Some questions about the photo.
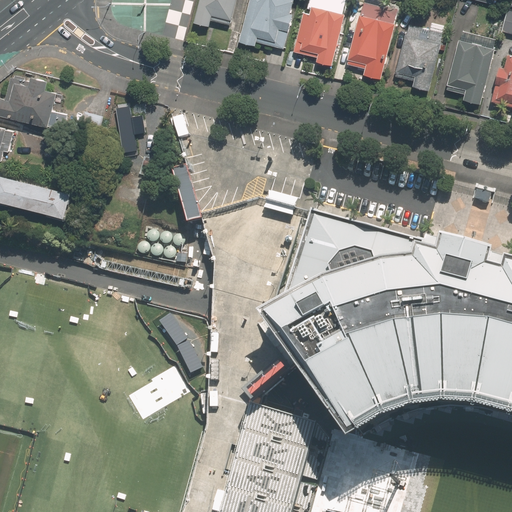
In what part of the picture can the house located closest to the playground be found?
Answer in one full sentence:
The house located closest to the playground is located in the top region of the scene.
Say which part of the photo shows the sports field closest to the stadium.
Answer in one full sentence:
You can find the sports field closest to the stadium in the bottom right area of the picture.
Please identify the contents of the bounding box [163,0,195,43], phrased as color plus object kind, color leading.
white playground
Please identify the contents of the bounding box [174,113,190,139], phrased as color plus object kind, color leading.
white vehicle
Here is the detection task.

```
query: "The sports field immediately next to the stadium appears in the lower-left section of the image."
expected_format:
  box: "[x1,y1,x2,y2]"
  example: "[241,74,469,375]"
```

[0,268,210,512]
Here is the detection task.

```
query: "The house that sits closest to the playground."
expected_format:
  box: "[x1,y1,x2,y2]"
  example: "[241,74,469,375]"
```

[193,0,237,29]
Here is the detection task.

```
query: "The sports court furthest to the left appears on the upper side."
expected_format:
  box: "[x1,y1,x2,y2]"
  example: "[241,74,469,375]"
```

[112,0,171,34]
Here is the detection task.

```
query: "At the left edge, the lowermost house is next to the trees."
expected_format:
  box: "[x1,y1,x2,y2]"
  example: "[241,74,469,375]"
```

[0,173,66,218]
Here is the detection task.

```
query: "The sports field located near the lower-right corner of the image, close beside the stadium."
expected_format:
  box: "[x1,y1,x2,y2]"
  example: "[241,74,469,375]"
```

[425,458,512,512]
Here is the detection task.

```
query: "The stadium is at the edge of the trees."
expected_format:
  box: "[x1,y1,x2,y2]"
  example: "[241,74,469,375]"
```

[255,208,512,478]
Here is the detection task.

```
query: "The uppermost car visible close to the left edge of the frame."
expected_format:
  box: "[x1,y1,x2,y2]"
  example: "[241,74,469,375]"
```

[9,0,24,14]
